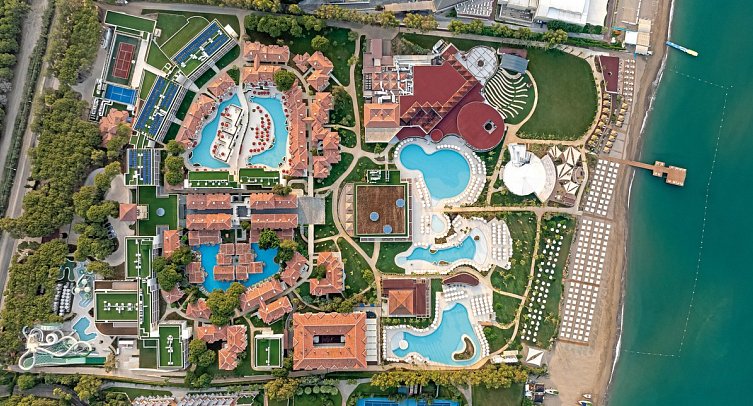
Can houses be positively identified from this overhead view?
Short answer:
Yes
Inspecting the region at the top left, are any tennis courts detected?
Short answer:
Yes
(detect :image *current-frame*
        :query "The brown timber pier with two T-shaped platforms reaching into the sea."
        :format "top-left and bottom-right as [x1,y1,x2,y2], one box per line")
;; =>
[611,156,687,186]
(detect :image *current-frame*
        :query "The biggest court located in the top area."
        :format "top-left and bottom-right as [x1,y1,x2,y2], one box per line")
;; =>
[104,31,141,85]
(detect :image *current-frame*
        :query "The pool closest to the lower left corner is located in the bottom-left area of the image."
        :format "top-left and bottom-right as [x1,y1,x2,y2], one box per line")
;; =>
[23,352,66,367]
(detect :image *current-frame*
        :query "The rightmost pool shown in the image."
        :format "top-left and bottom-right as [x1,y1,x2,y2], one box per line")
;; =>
[471,228,488,266]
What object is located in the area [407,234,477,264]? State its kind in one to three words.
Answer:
swimming pool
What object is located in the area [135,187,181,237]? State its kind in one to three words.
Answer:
building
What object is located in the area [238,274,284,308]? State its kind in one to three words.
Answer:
house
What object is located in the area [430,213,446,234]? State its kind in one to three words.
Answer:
swimming pool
